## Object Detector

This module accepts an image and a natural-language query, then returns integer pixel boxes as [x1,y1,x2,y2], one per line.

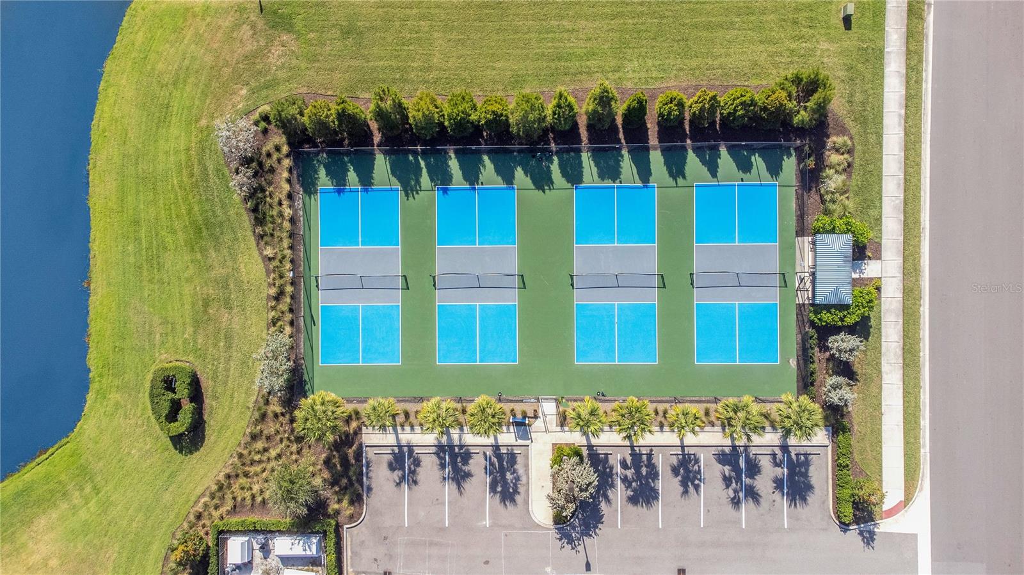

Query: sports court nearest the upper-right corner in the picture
[694,182,780,365]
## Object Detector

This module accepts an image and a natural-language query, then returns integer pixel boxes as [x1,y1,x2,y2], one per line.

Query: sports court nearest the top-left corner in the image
[318,186,402,366]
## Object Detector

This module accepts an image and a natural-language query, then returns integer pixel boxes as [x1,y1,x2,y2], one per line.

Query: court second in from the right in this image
[574,184,658,365]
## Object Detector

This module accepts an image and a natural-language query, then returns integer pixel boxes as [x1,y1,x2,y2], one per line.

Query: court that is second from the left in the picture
[436,186,518,365]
